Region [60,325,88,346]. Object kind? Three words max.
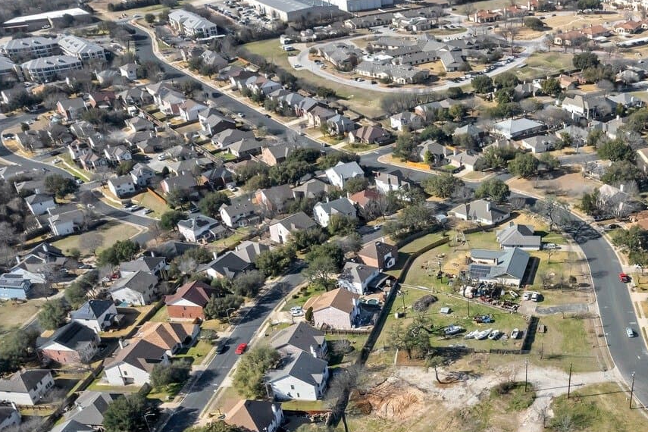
solar panel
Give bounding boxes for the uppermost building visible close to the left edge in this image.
[4,8,94,33]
